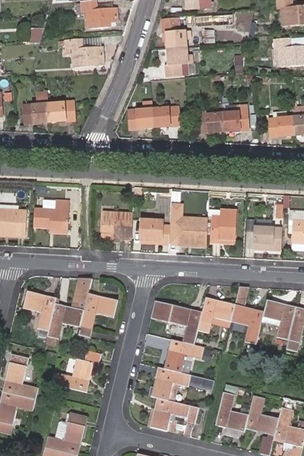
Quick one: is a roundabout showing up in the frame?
No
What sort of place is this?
residential area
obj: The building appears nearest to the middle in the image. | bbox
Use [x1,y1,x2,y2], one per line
[140,218,170,245]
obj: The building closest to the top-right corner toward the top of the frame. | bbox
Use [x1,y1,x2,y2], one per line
[276,0,304,26]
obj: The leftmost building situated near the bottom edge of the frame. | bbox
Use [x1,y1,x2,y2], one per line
[0,362,39,434]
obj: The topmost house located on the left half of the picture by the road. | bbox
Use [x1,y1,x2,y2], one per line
[80,0,120,30]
